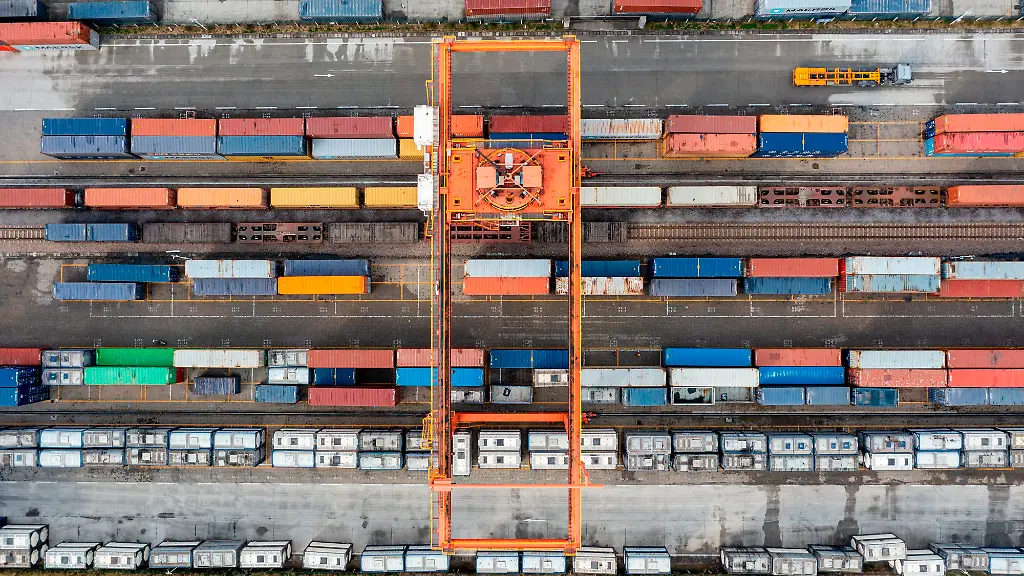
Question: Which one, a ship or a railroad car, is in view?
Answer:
railroad car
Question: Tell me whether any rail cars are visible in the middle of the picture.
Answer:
Yes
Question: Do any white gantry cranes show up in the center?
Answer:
No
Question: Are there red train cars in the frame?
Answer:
Yes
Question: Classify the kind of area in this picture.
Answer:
industrial area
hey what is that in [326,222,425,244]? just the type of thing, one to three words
rail car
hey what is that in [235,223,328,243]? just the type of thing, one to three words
rail car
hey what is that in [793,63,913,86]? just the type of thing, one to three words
truck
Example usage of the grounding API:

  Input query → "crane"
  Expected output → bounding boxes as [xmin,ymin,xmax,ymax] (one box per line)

[414,33,604,556]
